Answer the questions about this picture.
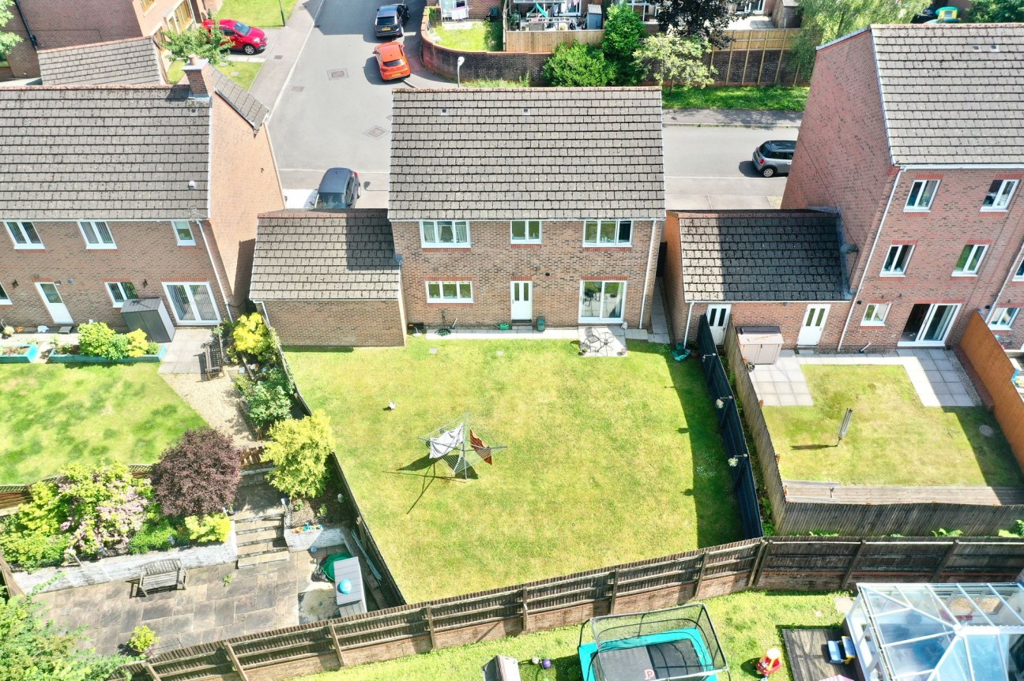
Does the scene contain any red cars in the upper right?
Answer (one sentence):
No, no red car is visible in the upper right.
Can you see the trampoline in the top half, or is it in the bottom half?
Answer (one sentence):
The trampoline sits in the bottom half of the picture.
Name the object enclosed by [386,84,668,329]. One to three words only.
house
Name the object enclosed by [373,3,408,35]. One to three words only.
car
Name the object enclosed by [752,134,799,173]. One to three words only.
car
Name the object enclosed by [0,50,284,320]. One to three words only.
house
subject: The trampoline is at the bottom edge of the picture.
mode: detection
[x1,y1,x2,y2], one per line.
[578,605,723,681]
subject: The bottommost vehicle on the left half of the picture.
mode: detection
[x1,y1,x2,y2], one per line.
[311,166,361,214]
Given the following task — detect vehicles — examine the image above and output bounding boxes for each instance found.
[373,3,408,35]
[376,41,413,76]
[311,166,361,214]
[752,134,799,173]
[195,16,270,51]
